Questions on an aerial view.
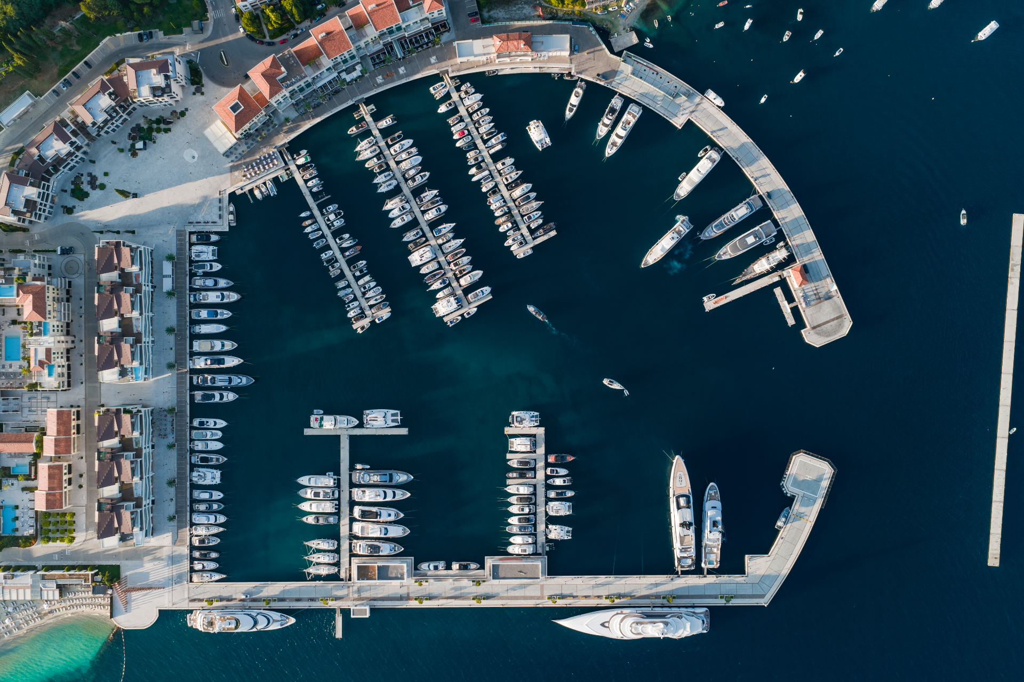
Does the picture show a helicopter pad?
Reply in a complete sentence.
Yes, the frame does contain a helicopter pad.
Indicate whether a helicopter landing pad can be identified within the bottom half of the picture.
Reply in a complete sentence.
Yes, the scene does show a helicopter landing pad within the bottom half of the picture.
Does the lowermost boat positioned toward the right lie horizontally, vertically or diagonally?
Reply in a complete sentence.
The lowermost boat positioned toward the right is laid out horizontally.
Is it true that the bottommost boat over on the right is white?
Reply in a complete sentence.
Yes, white is the color of the bottommost boat over on the right.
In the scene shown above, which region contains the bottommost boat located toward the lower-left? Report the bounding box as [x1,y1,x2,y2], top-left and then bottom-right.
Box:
[186,601,294,635]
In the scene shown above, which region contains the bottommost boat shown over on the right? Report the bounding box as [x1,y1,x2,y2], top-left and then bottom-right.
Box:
[552,594,710,639]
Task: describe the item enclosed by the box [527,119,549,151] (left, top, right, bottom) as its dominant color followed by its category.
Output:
white boat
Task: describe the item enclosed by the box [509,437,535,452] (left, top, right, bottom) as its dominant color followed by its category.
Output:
white boat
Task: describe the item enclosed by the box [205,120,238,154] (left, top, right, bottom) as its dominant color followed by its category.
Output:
white tent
